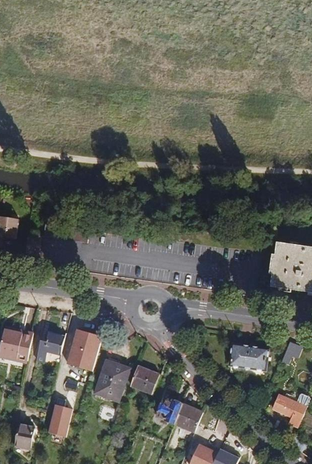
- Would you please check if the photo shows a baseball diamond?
No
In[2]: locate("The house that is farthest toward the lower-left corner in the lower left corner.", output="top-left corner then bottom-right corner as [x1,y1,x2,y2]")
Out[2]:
[14,423,35,450]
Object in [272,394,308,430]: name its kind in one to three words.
house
